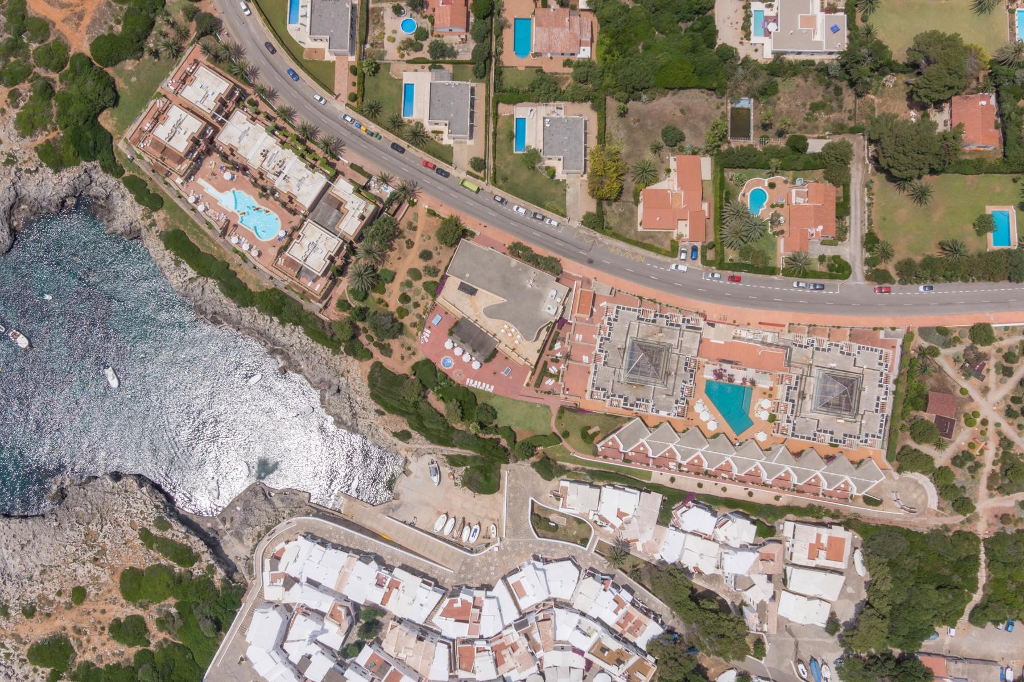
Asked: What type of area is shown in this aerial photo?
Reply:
residential area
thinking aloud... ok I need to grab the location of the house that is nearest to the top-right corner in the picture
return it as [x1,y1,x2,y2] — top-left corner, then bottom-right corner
[947,92,1000,149]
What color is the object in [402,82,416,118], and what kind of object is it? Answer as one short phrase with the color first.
blue swimming pool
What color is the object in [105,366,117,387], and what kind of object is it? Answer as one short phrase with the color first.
white boat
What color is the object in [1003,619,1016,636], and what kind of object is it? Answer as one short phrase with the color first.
blue vehicle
